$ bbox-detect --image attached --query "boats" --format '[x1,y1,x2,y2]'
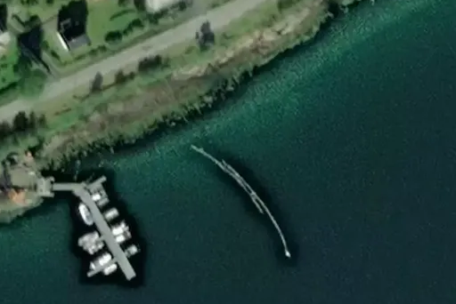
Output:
[90,243,103,252]
[79,229,98,243]
[112,224,127,236]
[105,209,119,220]
[104,263,118,274]
[92,253,113,268]
[82,237,98,249]
[80,204,94,226]
[115,233,129,244]
[92,194,101,202]
[125,247,138,255]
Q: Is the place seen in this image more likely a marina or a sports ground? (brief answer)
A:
marina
